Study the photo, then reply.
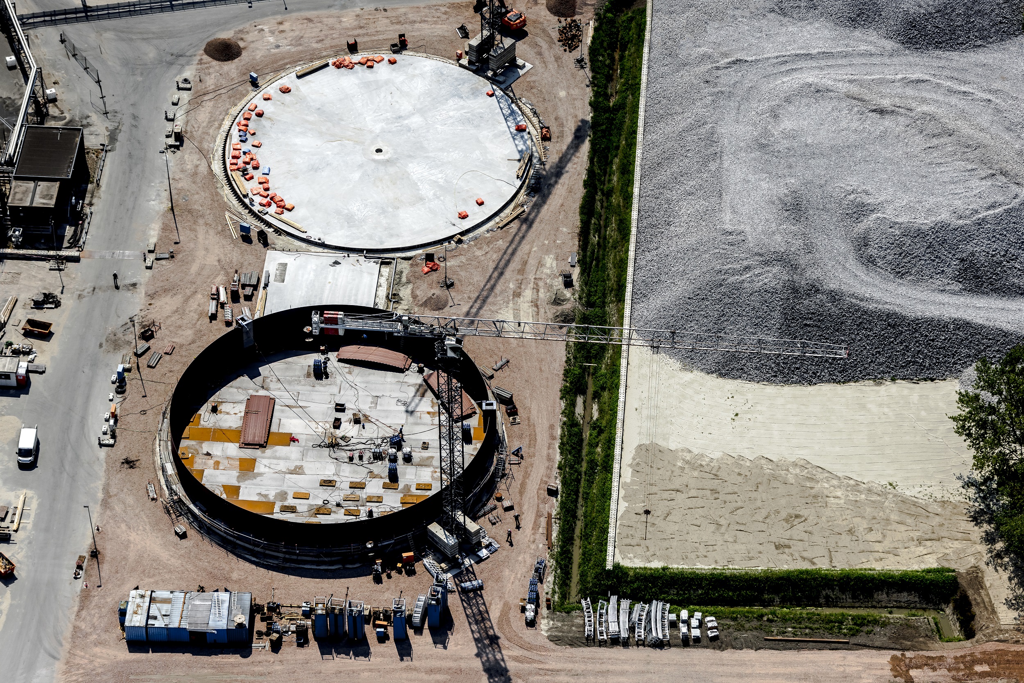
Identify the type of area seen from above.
industrial area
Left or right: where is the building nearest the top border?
left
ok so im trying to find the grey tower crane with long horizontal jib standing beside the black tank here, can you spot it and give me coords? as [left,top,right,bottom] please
[311,301,849,575]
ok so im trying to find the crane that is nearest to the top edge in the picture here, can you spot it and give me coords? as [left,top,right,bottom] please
[458,0,534,89]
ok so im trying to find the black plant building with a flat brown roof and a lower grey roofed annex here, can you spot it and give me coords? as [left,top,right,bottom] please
[6,123,86,241]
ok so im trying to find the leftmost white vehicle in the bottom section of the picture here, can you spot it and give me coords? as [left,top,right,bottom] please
[10,427,39,476]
